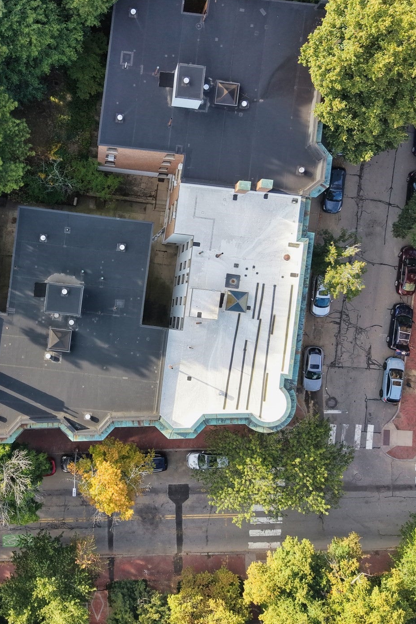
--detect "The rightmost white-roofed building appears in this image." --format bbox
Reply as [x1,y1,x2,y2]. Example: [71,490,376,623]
[153,155,313,438]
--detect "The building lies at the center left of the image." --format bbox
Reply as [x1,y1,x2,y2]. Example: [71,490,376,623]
[0,205,167,442]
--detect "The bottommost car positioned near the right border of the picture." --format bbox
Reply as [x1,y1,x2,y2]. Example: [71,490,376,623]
[381,356,406,402]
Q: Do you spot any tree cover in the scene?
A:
Yes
